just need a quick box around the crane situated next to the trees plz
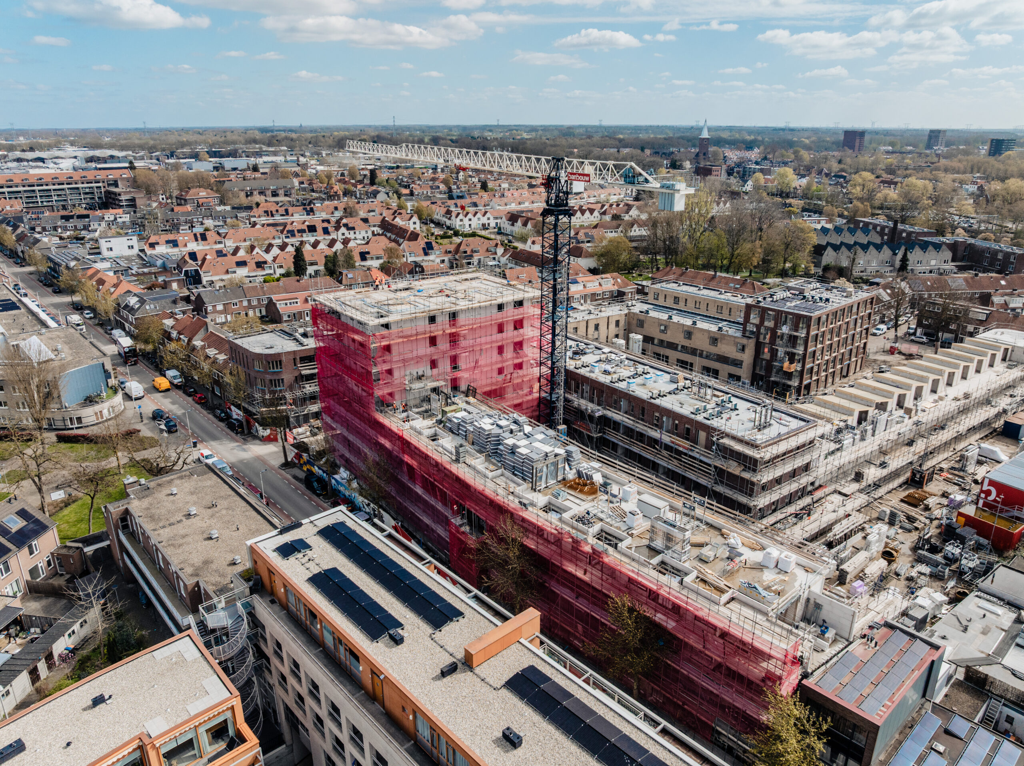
[342,139,703,438]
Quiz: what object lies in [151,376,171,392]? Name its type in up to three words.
vehicle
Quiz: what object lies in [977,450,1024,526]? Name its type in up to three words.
building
